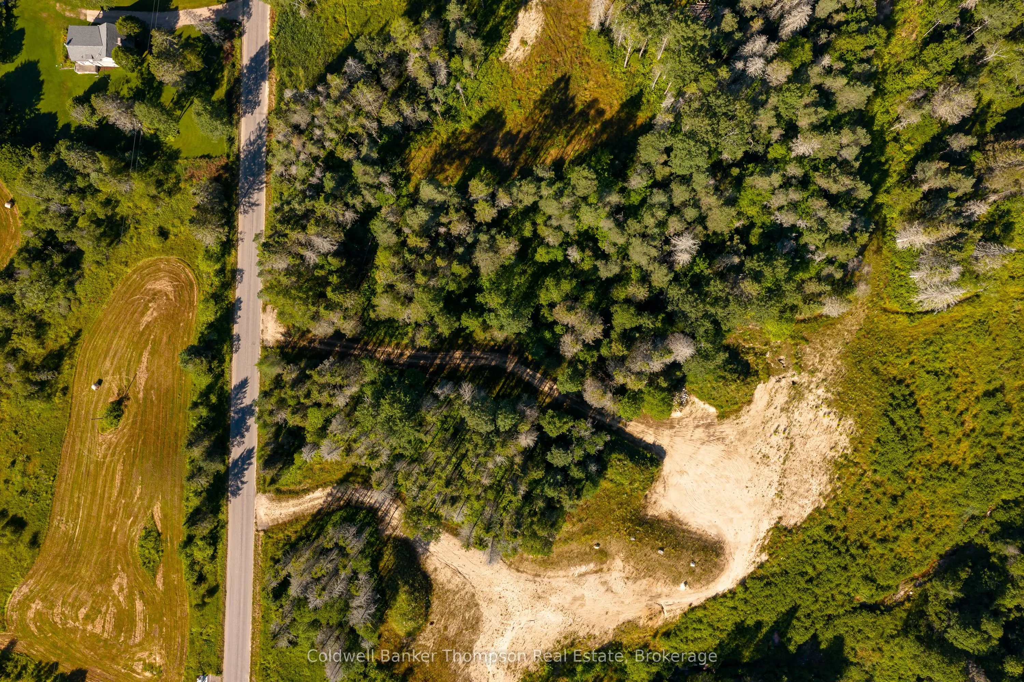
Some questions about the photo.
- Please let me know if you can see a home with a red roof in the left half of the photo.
No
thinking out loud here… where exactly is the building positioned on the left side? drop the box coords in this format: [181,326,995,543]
[64,22,134,76]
